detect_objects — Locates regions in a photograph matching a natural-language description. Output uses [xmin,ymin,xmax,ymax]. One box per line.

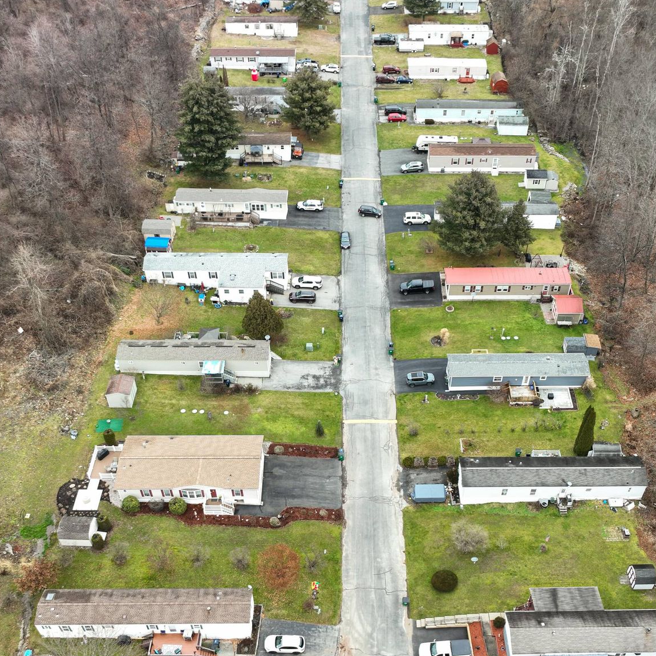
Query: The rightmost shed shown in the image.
[629,563,656,590]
